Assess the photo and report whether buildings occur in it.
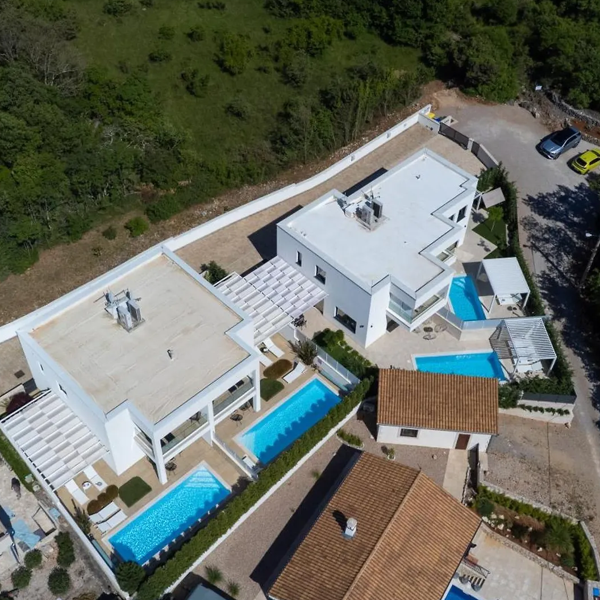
Yes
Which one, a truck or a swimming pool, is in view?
swimming pool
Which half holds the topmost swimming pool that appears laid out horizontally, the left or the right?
right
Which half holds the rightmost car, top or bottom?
top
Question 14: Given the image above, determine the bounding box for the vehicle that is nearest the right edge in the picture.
[570,143,600,172]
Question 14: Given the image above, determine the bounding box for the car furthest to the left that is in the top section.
[537,120,580,156]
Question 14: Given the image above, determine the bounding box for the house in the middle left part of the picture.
[17,246,259,482]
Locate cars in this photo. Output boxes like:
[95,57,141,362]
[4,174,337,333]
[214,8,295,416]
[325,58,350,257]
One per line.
[570,143,600,172]
[537,120,580,156]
